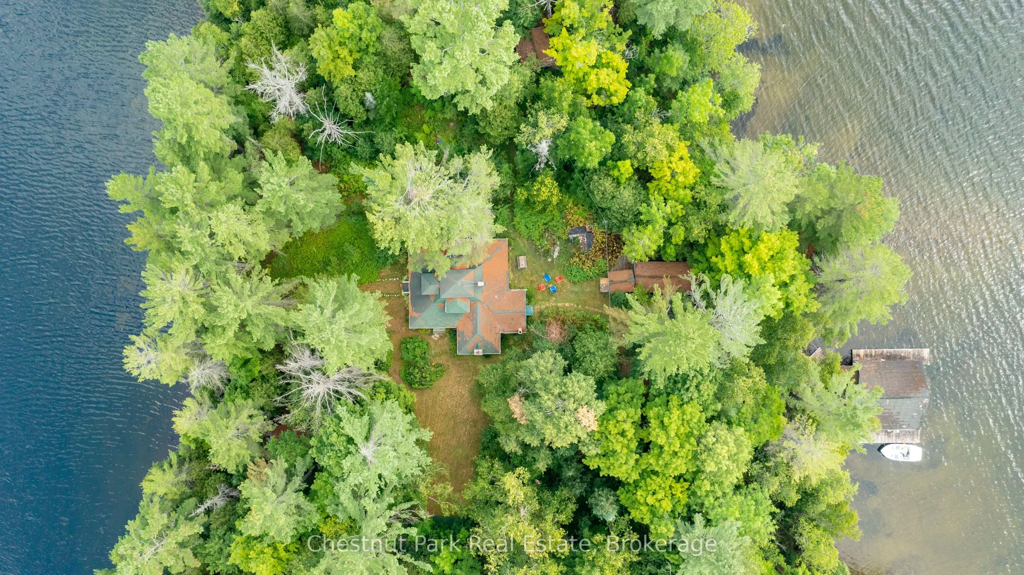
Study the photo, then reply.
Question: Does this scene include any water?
Yes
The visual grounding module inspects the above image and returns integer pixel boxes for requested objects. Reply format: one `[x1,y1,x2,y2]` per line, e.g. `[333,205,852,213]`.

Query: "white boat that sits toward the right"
[882,445,926,463]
